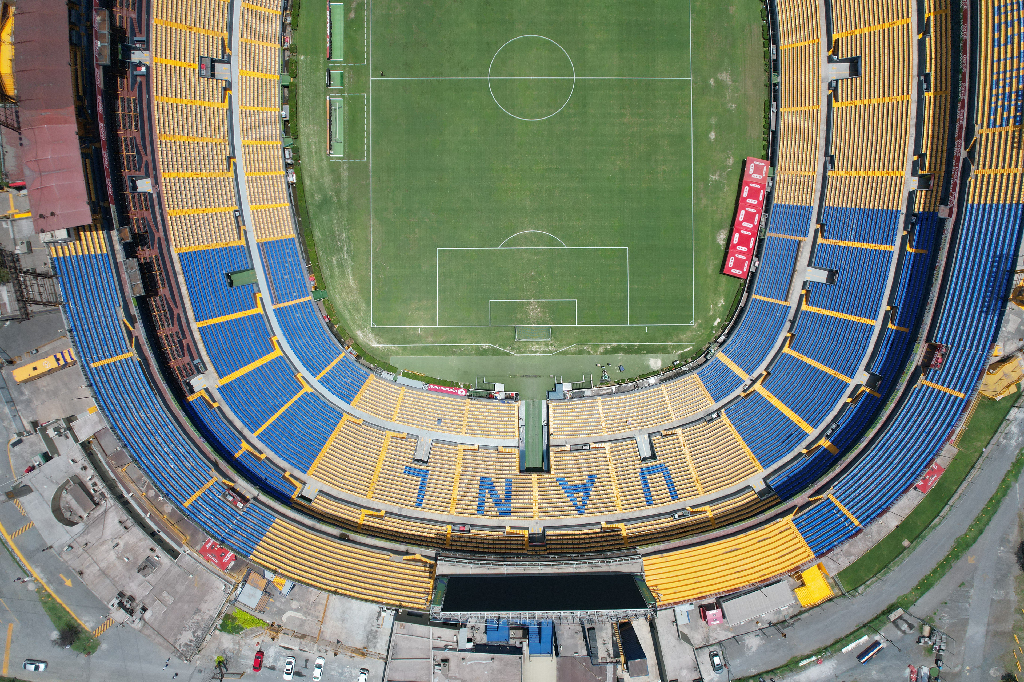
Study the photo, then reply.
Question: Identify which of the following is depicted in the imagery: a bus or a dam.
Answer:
bus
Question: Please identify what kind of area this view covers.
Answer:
sports ground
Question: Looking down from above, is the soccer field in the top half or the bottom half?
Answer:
top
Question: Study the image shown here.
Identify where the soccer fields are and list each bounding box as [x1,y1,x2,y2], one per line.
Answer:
[238,0,830,403]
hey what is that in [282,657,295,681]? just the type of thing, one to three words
vehicle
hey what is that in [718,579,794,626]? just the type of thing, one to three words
shed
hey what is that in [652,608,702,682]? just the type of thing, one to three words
building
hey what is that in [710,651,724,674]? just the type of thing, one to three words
car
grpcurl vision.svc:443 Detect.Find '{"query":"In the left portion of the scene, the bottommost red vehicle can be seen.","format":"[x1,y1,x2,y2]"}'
[251,651,264,672]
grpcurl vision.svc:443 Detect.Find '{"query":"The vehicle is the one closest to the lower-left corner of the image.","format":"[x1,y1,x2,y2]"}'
[22,659,45,672]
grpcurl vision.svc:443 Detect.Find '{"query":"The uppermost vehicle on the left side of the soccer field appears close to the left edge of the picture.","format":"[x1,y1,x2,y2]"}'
[10,350,79,386]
